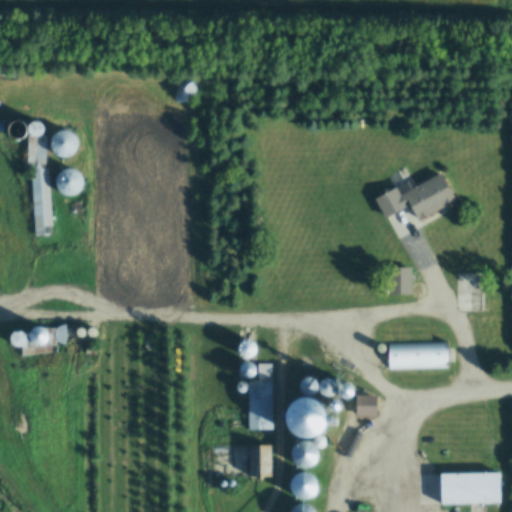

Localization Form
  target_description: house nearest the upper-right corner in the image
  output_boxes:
[377,174,456,218]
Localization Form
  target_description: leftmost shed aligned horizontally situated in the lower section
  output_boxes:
[21,342,56,357]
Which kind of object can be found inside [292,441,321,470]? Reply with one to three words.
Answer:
silo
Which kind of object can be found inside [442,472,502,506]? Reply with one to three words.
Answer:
shed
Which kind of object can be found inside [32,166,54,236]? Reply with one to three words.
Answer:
barn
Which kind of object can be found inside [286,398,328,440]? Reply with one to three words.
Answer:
silo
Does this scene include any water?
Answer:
No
